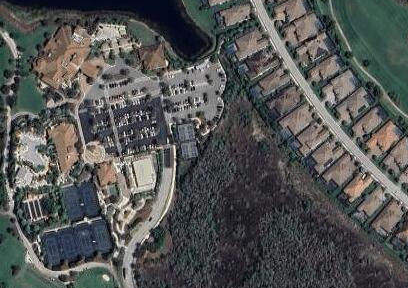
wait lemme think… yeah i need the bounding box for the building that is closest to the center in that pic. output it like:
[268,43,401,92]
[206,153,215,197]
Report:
[132,157,156,187]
